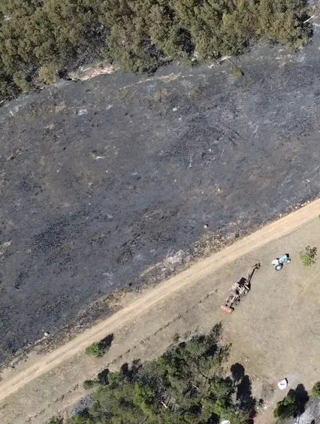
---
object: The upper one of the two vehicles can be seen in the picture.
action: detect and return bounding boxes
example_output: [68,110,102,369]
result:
[270,253,291,269]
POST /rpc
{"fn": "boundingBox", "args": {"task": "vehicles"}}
[270,253,291,269]
[223,265,259,312]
